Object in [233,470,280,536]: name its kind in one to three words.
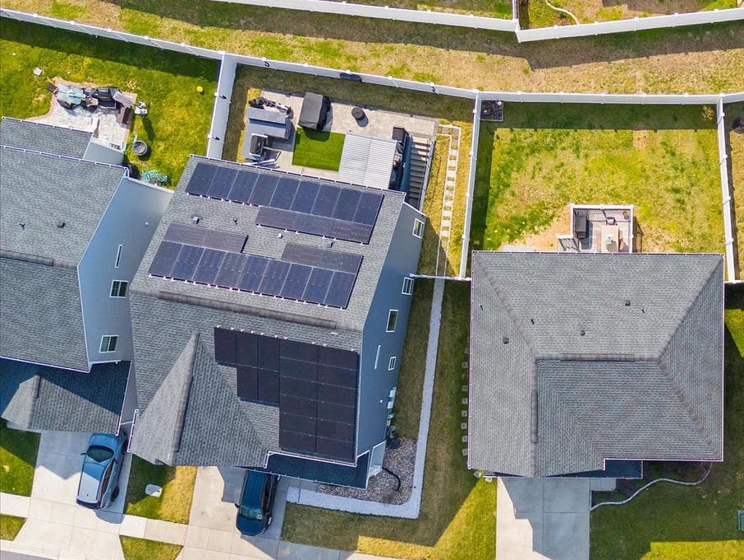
car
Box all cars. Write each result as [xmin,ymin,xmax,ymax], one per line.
[74,433,127,514]
[233,470,280,536]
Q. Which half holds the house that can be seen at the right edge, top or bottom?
bottom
